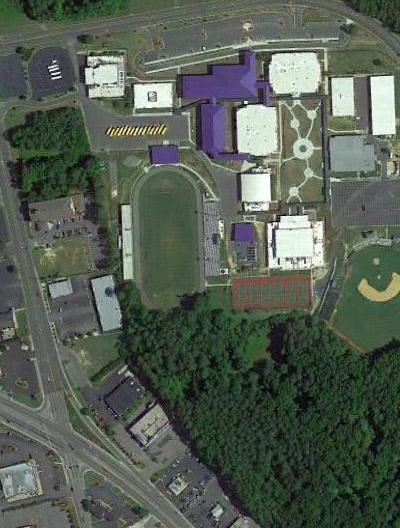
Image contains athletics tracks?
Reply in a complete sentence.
Yes, there is an athletics track in the image.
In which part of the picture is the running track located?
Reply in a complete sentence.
The running track is in the center part of the image.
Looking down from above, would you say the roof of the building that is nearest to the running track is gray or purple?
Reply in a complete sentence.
The roof of the building that is nearest to the running track is purple.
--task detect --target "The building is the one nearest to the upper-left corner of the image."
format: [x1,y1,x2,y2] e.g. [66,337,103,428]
[86,56,125,97]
